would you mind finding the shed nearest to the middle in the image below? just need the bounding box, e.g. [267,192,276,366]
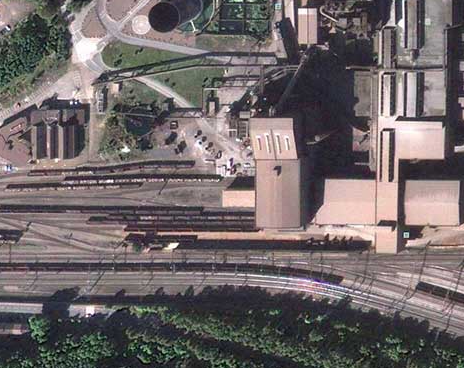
[222,187,255,206]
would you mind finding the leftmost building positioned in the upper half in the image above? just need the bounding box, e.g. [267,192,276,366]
[0,115,30,142]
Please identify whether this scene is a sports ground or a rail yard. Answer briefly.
rail yard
